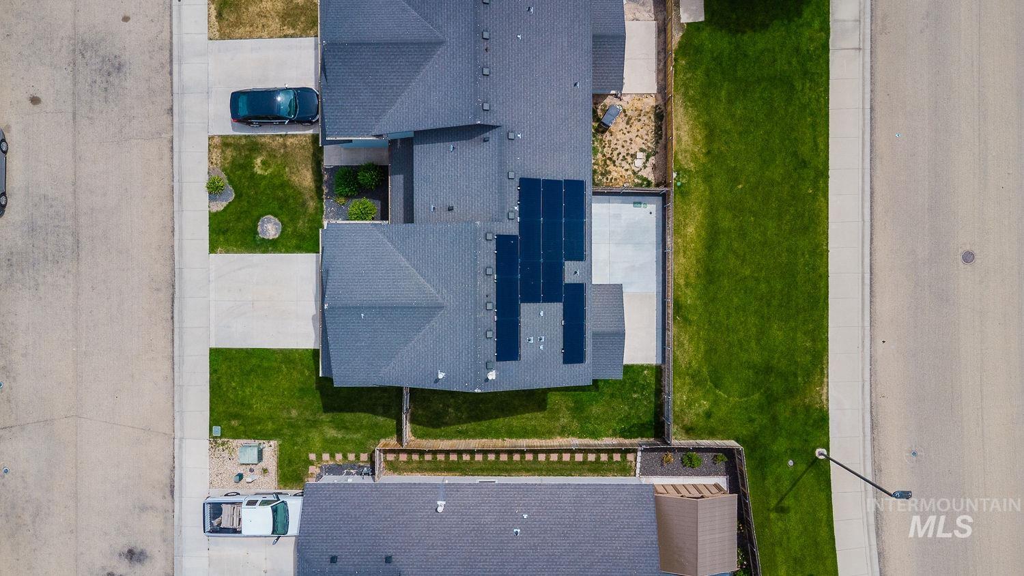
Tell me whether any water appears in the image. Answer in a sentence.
No, there's no water in this view.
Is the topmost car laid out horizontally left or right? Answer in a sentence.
You can find the topmost car laid out horizontally on the left side of the picture.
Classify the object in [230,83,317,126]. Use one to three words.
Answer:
car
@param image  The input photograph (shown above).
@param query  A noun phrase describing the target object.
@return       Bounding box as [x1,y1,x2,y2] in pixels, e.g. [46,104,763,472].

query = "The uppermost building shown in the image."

[317,0,625,393]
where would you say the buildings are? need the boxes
[317,0,625,393]
[296,477,660,576]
